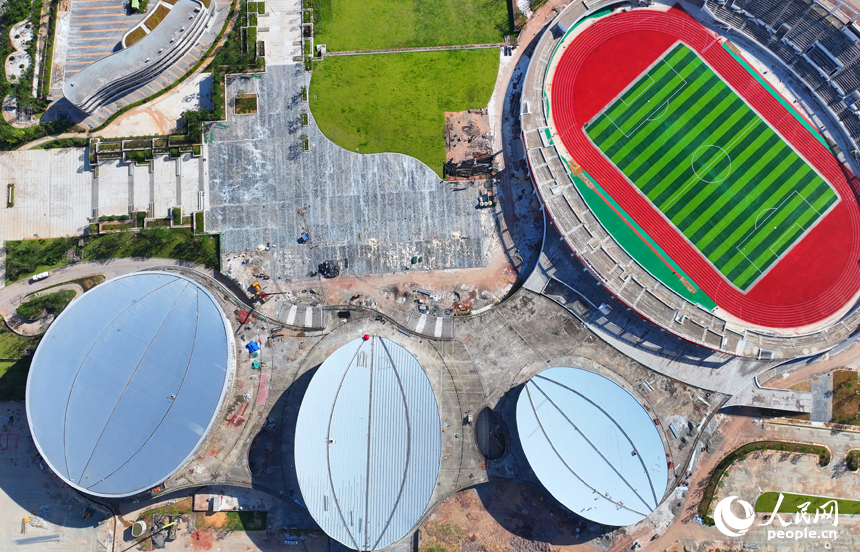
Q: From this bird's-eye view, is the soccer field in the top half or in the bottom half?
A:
top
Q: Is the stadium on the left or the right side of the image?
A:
right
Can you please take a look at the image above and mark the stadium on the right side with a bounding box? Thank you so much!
[518,0,860,363]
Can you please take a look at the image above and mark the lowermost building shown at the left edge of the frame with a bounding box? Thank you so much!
[24,271,243,497]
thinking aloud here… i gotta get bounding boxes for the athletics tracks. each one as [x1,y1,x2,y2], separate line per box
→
[548,0,860,325]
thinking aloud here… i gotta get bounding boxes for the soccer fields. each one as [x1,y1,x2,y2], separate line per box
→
[584,39,840,292]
